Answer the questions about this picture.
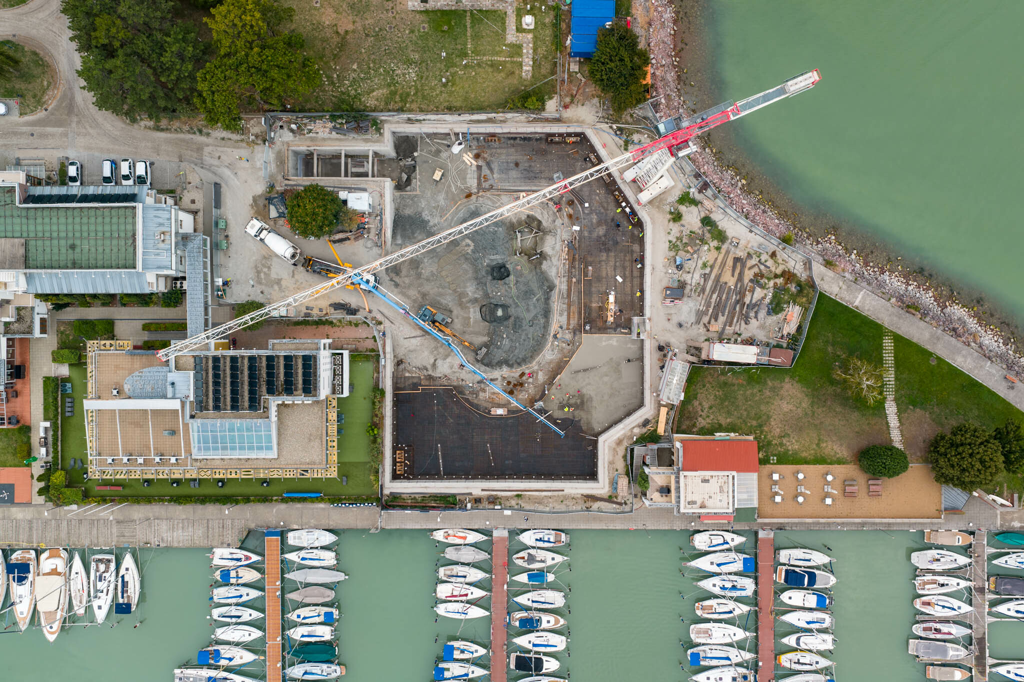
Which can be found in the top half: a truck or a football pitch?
truck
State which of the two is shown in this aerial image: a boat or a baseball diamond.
boat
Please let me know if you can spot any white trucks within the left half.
Yes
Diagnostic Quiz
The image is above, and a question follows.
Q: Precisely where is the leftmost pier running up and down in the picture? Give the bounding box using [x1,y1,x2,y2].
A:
[259,526,290,682]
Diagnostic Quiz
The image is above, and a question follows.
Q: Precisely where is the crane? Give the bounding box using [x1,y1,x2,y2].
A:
[159,64,827,361]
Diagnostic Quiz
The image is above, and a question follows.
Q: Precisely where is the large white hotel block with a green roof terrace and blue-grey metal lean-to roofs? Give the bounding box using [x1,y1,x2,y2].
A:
[0,166,205,293]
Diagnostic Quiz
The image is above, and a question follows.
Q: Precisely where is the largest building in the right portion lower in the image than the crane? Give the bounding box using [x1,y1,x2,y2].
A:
[633,432,759,522]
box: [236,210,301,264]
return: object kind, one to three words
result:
truck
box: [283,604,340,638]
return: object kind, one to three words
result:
boat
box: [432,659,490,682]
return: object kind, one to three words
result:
boat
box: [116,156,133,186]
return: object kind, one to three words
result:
car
